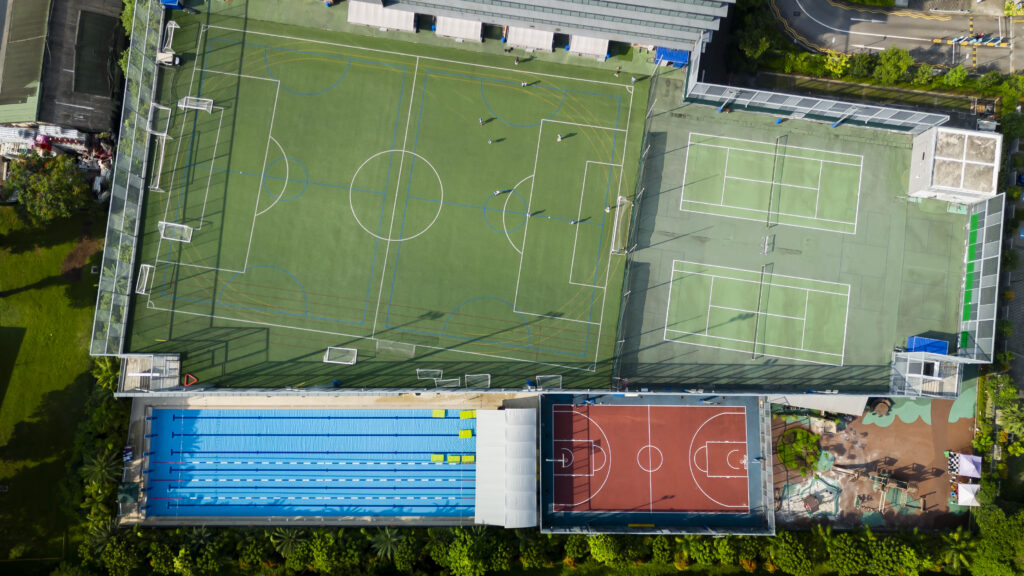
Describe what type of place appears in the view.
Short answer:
sports ground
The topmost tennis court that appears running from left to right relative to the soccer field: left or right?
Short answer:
to the right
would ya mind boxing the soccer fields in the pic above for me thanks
[122,0,651,392]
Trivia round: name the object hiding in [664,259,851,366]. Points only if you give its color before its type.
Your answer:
green tennis court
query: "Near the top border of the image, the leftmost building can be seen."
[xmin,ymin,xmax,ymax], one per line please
[0,0,56,132]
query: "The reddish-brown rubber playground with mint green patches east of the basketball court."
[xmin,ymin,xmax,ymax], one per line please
[772,378,977,529]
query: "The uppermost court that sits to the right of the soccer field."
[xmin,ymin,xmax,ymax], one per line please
[680,132,864,235]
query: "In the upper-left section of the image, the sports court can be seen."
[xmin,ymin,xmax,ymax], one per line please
[56,10,118,110]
